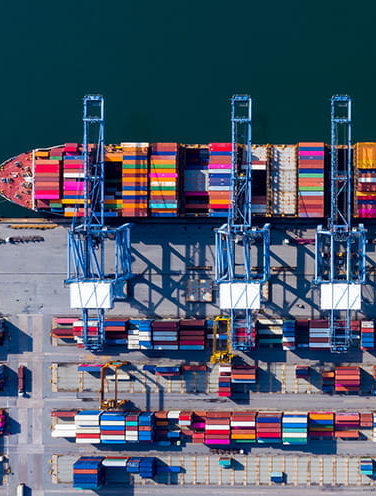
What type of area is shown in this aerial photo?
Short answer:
port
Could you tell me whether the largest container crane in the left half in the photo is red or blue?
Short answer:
blue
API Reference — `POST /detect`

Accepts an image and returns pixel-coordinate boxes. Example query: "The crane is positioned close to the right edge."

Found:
[309,93,369,353]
